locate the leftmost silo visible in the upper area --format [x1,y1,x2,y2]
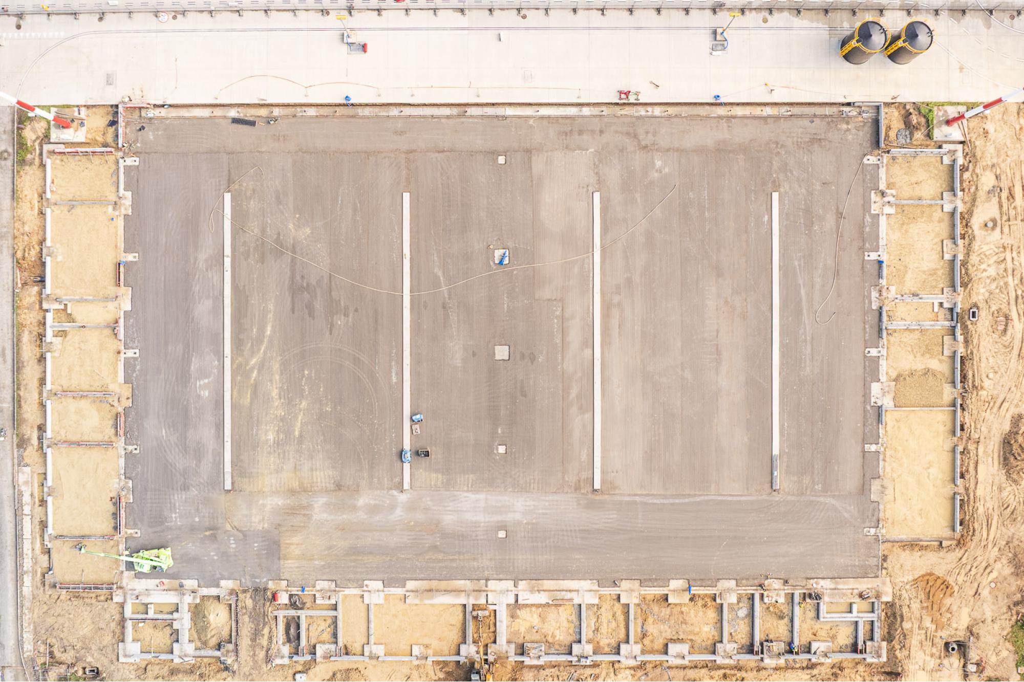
[840,15,894,64]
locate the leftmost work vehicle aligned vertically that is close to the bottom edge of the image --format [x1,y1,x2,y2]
[471,612,493,682]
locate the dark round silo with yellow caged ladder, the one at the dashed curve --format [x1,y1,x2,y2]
[885,15,941,64]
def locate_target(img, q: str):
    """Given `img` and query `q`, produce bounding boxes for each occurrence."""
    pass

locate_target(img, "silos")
[885,15,941,64]
[840,15,894,64]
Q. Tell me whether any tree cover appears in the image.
No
